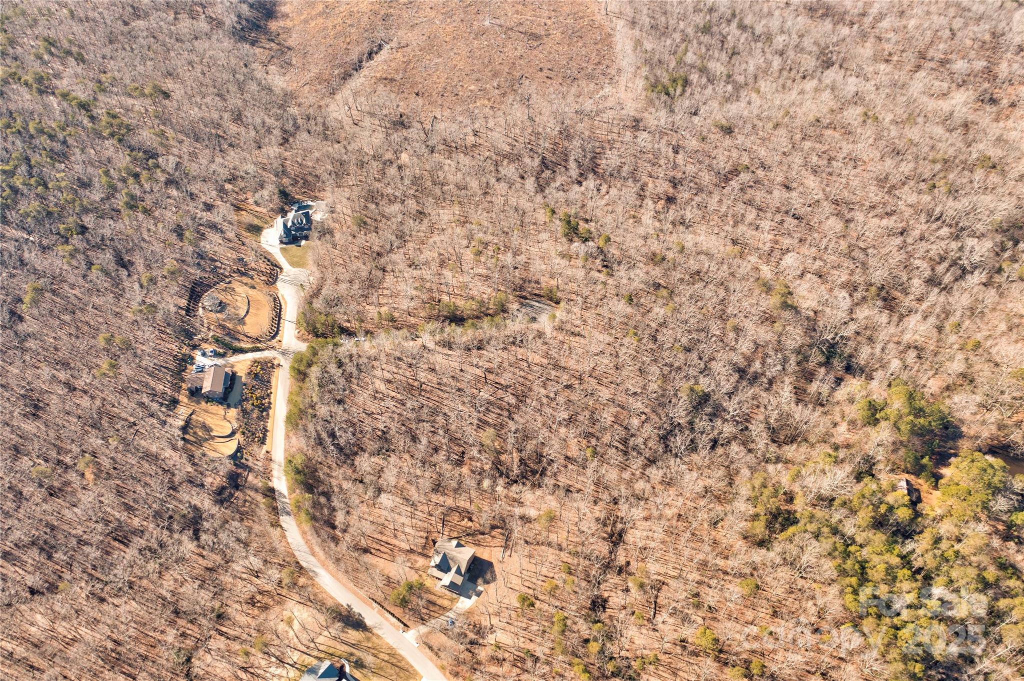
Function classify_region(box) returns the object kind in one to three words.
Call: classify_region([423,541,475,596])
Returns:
house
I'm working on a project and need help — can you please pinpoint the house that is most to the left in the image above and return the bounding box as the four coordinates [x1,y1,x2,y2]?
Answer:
[186,365,235,401]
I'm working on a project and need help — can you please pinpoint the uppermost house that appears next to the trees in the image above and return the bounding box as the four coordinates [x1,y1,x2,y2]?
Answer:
[276,208,313,244]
